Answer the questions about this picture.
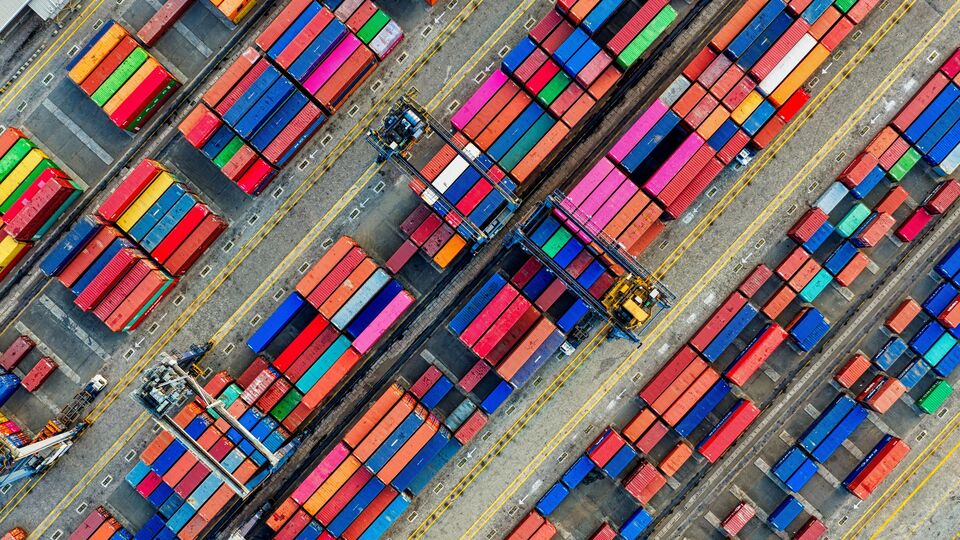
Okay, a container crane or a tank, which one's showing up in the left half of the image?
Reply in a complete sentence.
There is a container crane in the left half of the image.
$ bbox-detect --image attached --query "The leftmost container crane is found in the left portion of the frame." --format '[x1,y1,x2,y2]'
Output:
[0,421,88,490]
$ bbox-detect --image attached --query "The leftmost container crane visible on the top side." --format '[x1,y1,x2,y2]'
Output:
[365,89,526,253]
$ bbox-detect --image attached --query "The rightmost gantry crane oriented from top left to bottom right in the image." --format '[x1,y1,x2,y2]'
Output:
[505,184,683,347]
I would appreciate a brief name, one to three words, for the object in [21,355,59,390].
shipping container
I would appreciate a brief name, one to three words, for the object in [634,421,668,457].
shipping container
